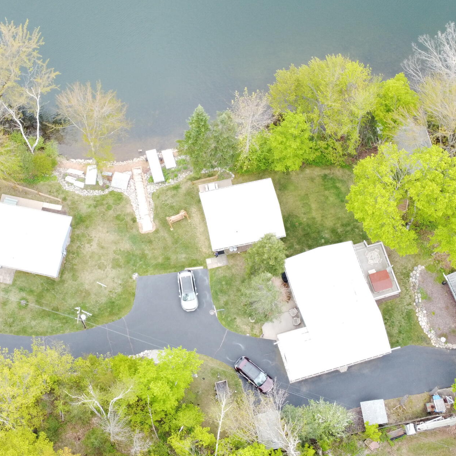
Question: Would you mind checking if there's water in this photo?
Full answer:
Yes, water shows up in the scene.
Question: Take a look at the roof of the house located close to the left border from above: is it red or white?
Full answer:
The roof of the house located close to the left border looks white in the image.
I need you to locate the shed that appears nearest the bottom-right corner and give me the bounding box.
[357,400,388,427]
